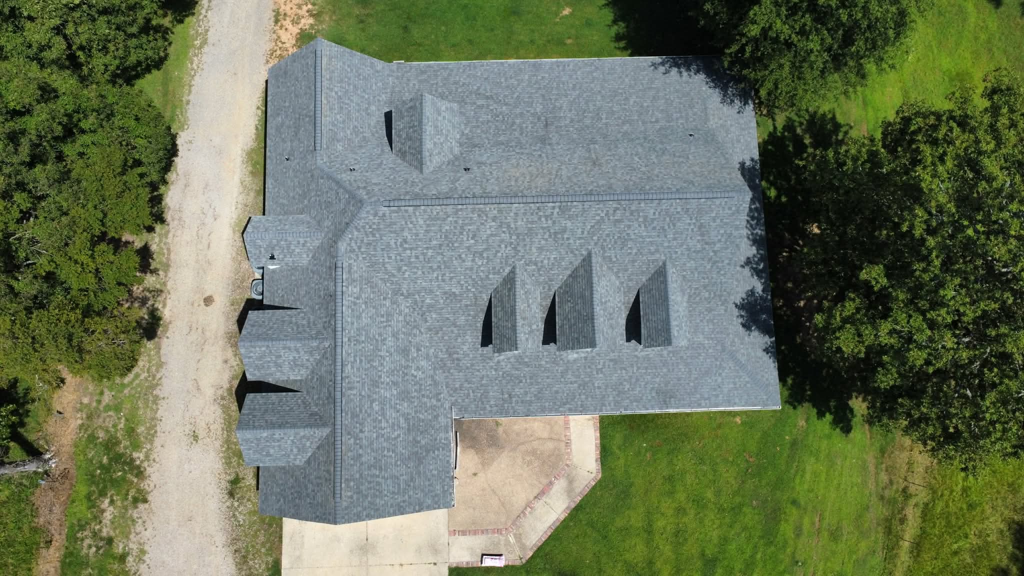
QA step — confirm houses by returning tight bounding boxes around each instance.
[235,38,782,524]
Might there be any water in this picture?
No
